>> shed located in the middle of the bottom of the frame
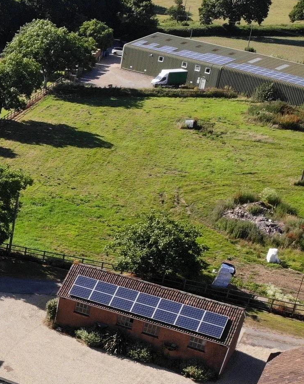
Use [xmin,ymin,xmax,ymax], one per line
[54,262,245,377]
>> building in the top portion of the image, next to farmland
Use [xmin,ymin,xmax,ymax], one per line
[120,32,304,112]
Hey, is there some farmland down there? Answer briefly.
Yes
